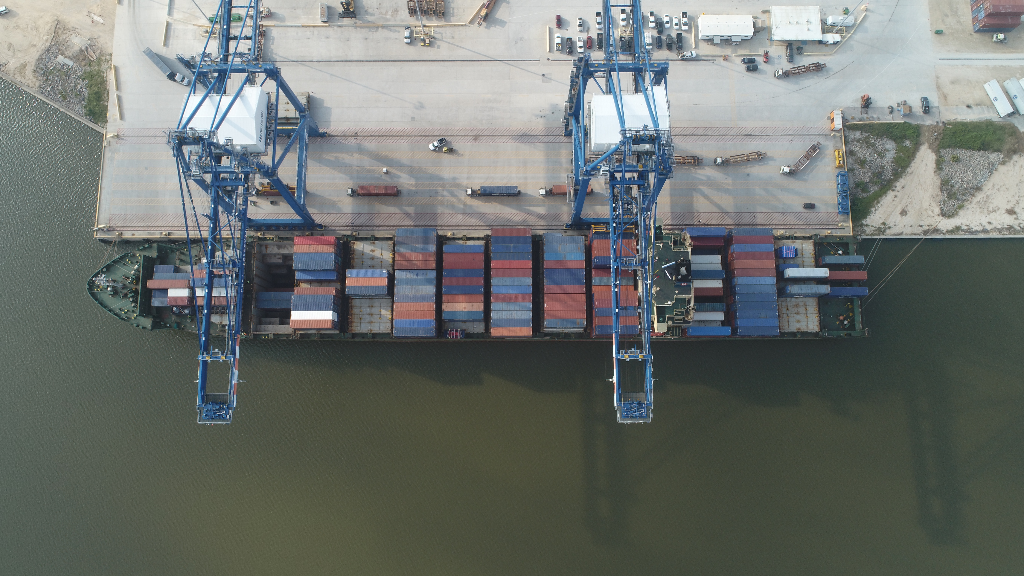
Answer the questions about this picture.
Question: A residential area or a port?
port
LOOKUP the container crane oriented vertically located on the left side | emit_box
[161,0,327,426]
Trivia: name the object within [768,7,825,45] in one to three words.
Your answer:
building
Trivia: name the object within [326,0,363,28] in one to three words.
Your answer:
work vehicle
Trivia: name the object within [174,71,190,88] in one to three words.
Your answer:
vehicle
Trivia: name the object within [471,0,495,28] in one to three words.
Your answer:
truck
